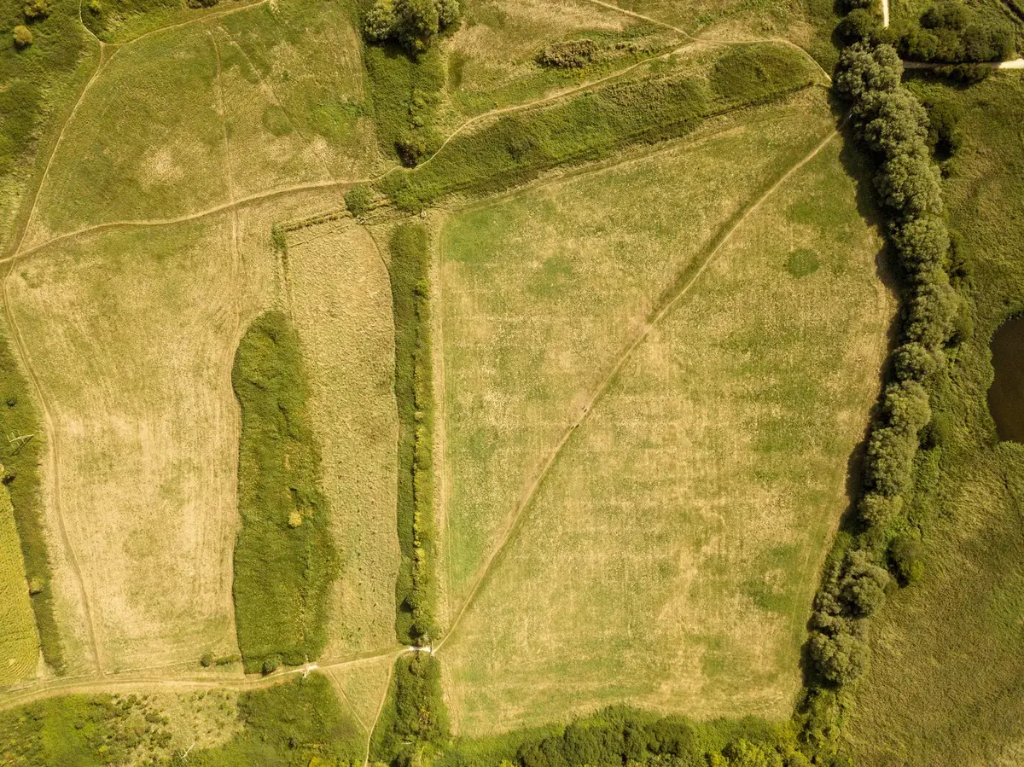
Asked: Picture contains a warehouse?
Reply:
No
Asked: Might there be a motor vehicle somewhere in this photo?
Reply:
No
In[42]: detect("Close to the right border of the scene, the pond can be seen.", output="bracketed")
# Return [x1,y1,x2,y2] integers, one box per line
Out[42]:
[988,310,1024,441]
